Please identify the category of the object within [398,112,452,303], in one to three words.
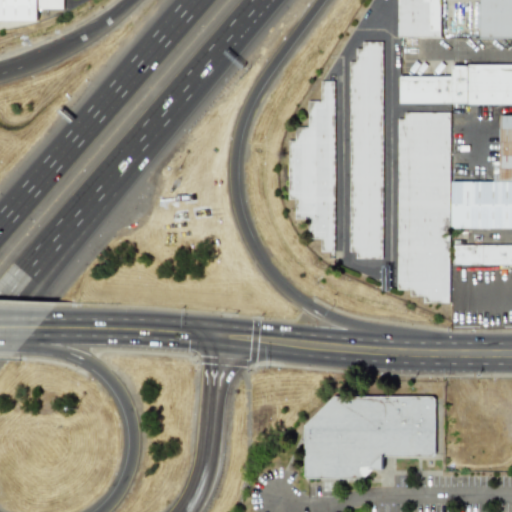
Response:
building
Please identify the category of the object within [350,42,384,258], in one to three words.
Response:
building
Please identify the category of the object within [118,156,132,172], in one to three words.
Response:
vehicle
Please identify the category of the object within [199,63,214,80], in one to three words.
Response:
vehicle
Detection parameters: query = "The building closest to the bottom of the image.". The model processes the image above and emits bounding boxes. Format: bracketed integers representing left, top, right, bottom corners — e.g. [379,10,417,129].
[304,396,438,479]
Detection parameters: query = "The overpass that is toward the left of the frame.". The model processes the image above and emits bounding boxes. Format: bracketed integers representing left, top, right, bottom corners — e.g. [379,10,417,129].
[0,301,102,382]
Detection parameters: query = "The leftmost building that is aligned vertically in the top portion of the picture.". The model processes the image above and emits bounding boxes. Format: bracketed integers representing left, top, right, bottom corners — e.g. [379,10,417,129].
[292,80,336,254]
